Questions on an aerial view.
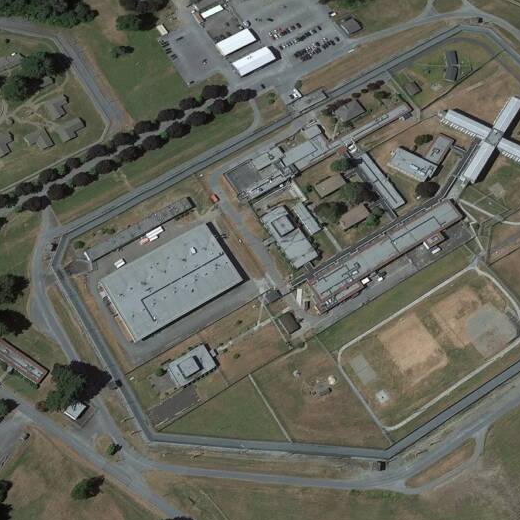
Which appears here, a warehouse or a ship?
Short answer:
warehouse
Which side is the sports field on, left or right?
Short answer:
right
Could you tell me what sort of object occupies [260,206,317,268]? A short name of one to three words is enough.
building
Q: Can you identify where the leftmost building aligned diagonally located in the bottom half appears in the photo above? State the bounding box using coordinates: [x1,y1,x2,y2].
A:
[0,339,44,384]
